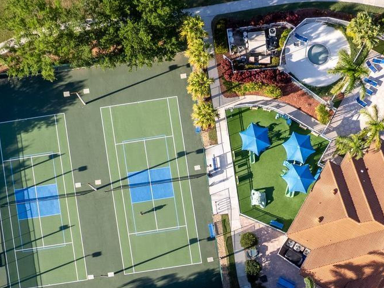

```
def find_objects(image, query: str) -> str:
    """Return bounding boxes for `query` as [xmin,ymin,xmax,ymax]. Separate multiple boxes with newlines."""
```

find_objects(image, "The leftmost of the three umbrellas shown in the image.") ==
[239,123,271,156]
